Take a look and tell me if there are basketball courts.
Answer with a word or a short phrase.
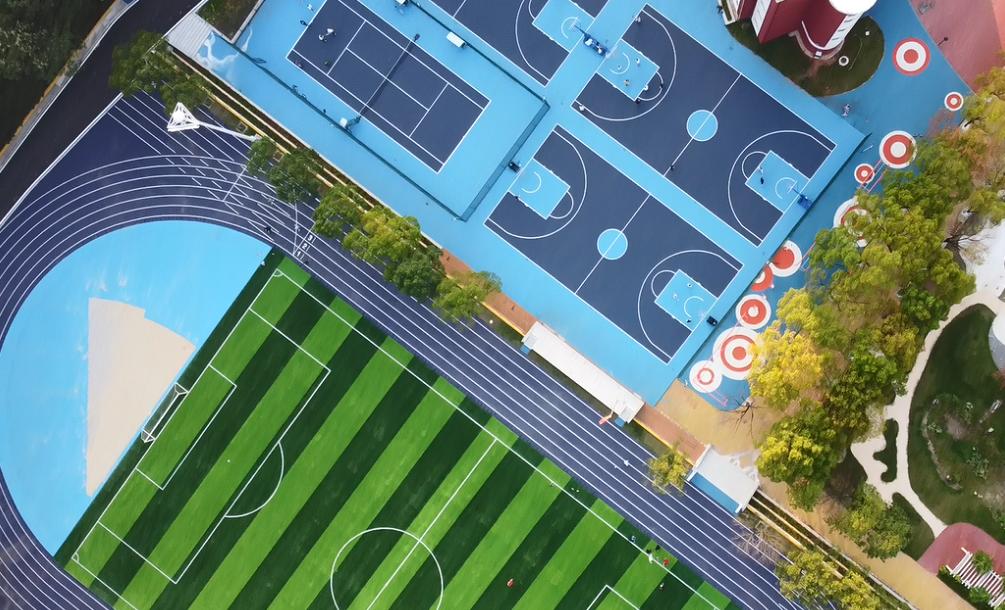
Yes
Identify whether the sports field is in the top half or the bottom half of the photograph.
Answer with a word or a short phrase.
bottom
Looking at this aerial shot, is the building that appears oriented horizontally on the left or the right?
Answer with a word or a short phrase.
right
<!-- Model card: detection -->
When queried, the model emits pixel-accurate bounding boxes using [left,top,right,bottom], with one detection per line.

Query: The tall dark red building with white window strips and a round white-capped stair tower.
[732,0,874,58]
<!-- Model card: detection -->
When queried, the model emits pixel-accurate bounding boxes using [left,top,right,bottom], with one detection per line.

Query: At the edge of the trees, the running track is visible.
[0,79,862,610]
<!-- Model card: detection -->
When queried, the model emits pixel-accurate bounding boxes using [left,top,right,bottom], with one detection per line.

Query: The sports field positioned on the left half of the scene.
[54,248,743,610]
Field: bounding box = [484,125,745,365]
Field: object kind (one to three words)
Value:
basketball court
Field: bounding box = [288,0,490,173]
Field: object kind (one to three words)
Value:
tennis court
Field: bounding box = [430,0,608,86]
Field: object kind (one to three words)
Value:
basketball court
